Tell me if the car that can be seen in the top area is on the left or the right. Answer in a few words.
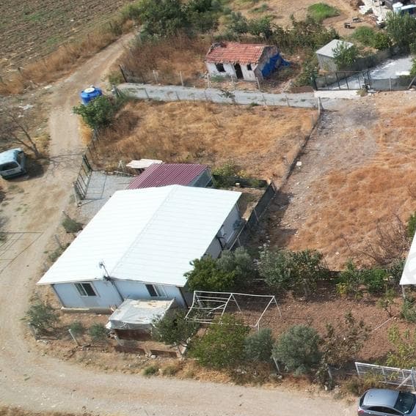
left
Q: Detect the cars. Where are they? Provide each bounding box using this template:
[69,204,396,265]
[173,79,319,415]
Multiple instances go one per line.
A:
[0,151,28,176]
[352,391,416,416]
